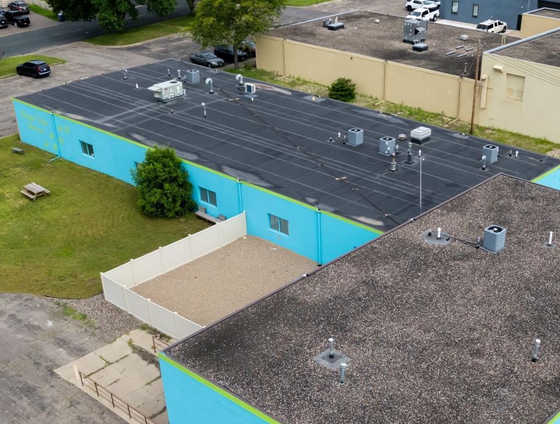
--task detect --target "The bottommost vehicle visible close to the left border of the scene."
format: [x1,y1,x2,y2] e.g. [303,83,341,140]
[11,55,47,76]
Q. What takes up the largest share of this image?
buildings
